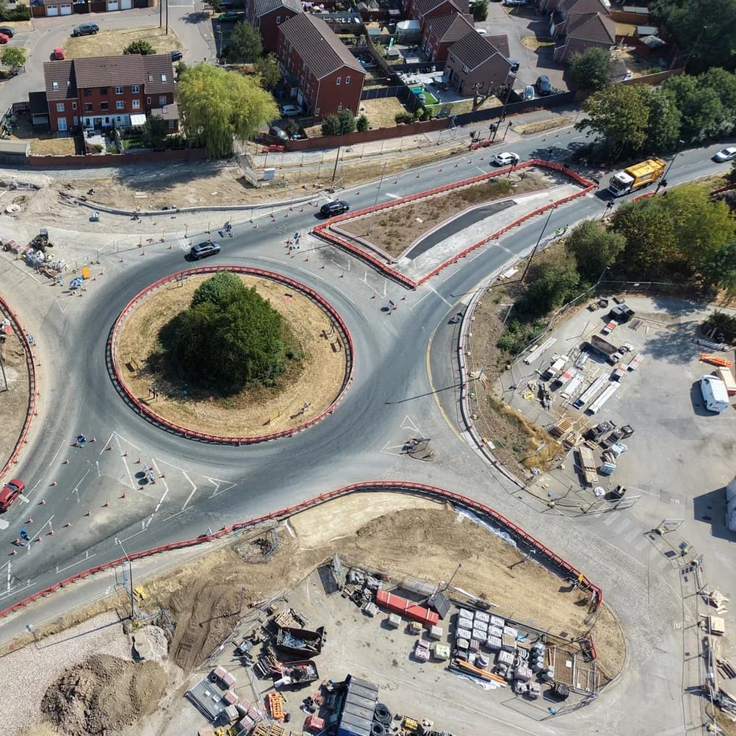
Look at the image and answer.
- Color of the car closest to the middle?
black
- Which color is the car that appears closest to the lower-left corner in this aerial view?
red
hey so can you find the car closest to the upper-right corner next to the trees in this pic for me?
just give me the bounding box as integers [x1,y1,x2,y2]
[712,146,736,164]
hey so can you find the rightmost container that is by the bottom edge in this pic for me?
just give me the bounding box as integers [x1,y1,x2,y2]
[335,675,380,736]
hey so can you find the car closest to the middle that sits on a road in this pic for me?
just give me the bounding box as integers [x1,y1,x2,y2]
[319,199,352,218]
